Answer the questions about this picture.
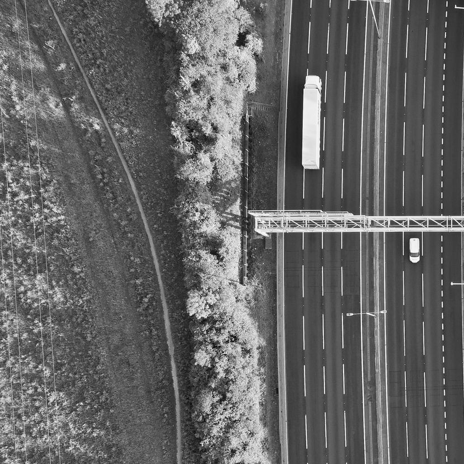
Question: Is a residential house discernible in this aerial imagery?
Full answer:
No, I can't see a single residential house in this photo.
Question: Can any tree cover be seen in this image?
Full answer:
Yes, some tree cover is visible.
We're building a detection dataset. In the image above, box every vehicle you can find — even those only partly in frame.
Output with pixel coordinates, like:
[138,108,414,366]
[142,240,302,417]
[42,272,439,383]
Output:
[408,238,421,263]
[304,78,323,168]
